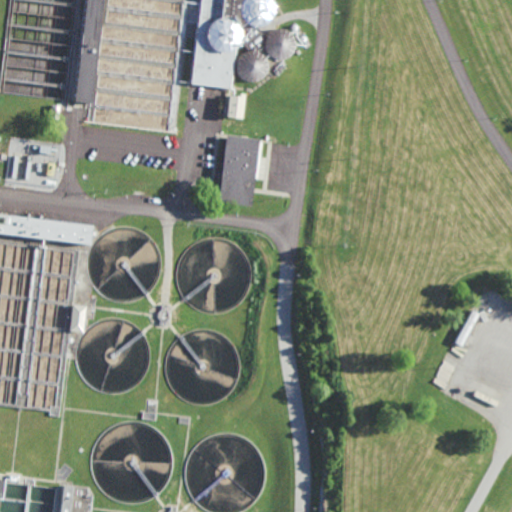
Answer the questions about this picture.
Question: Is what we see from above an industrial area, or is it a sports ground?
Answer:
industrial area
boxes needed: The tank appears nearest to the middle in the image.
[176,237,252,313]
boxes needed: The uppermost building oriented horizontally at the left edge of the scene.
[0,214,94,246]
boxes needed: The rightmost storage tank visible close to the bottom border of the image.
[184,433,266,512]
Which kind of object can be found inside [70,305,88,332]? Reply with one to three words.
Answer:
building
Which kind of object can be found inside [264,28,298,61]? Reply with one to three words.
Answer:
storage tank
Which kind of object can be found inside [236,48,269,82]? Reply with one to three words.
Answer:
storage tank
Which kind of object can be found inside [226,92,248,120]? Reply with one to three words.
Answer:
shed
